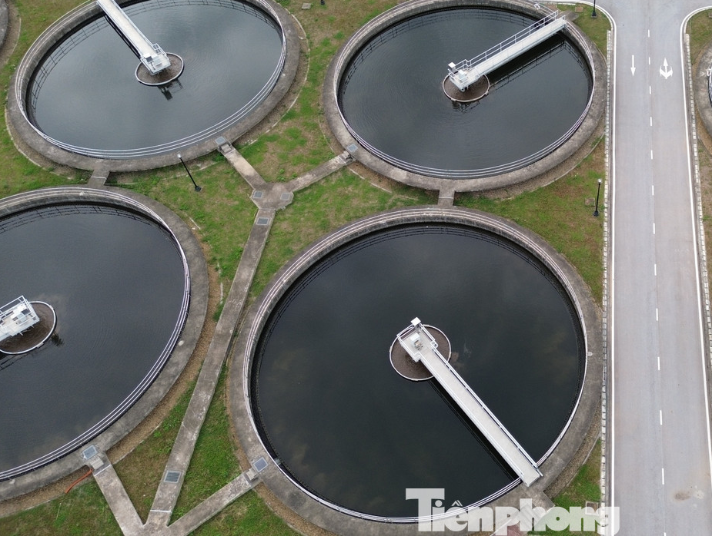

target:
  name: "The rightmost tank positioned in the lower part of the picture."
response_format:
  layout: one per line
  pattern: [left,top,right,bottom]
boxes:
[230,204,606,536]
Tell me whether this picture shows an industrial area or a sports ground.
industrial area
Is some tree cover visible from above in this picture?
No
